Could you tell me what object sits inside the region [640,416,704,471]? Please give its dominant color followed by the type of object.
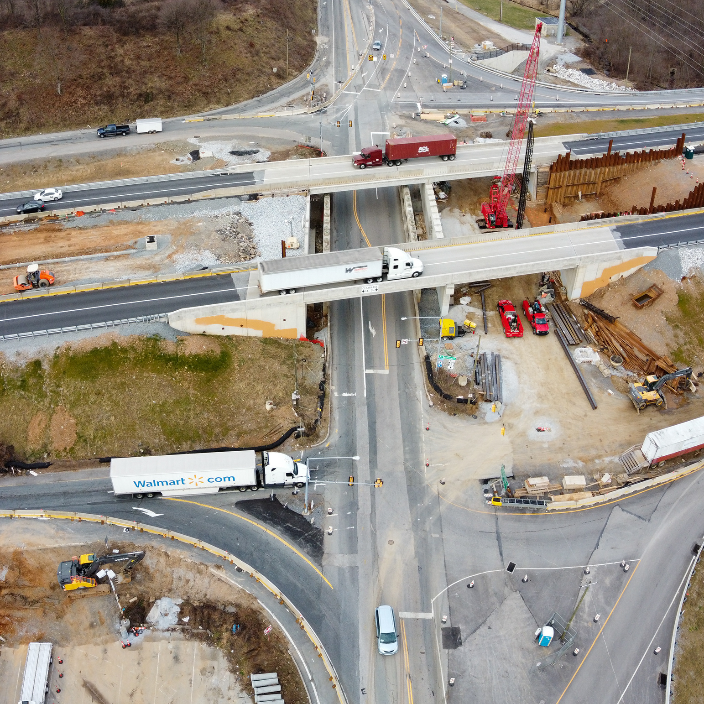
white trailer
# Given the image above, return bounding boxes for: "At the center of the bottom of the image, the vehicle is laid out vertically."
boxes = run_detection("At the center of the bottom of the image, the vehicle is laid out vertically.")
[375,605,400,657]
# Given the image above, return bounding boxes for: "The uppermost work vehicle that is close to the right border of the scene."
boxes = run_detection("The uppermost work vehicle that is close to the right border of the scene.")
[626,364,696,412]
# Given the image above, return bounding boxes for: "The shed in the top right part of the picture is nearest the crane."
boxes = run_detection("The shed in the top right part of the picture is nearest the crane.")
[534,17,568,36]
